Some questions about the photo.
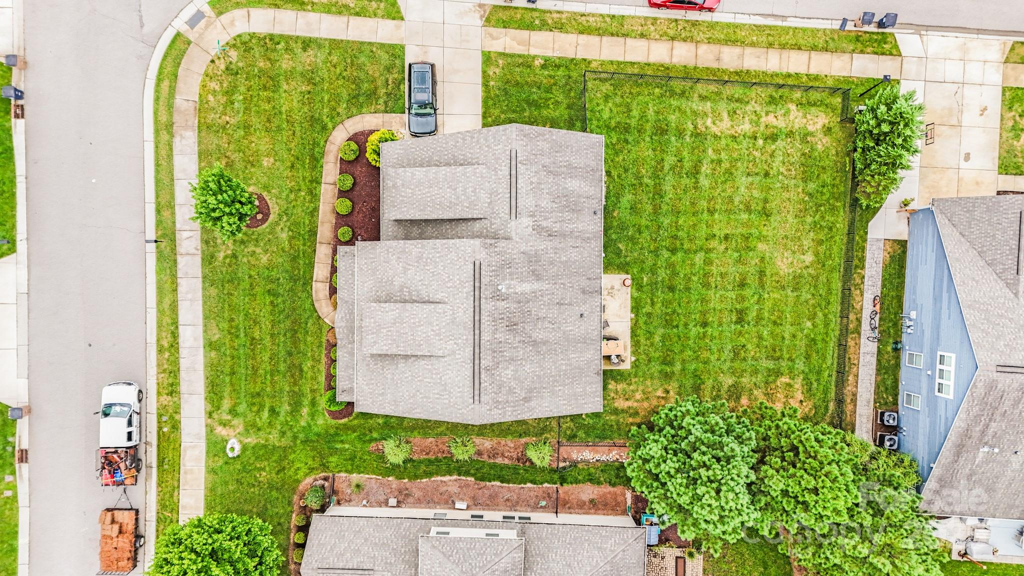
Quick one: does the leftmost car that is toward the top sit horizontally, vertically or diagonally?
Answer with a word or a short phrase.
vertically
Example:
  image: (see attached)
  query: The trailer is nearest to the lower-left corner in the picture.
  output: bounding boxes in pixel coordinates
[99,487,151,576]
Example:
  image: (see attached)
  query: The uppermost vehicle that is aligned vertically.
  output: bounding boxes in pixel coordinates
[404,61,441,138]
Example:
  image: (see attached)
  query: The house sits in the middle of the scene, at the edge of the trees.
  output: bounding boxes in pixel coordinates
[333,124,605,424]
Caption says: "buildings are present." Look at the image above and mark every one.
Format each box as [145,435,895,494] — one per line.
[333,124,605,424]
[894,193,1024,522]
[300,502,648,576]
